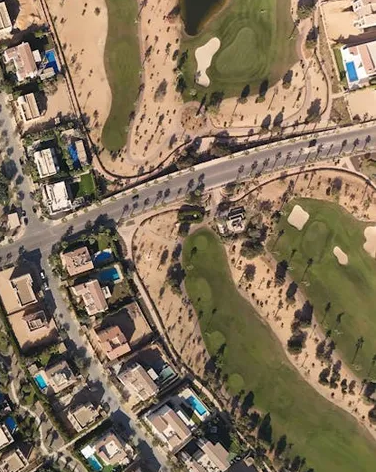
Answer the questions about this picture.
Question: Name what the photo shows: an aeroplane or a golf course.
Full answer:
It is a golf course that can be seen here.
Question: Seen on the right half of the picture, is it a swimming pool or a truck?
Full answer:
The one visible on the right half of the picture is a swimming pool.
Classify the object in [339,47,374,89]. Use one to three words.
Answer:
swimming pool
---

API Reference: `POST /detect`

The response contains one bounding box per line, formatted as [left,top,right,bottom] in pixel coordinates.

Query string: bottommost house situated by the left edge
[0,446,32,472]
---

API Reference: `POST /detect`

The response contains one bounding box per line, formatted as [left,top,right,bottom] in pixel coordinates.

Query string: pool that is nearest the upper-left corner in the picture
[43,47,61,71]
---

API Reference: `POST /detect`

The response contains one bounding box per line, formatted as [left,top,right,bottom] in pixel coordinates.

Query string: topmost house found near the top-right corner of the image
[348,0,376,33]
